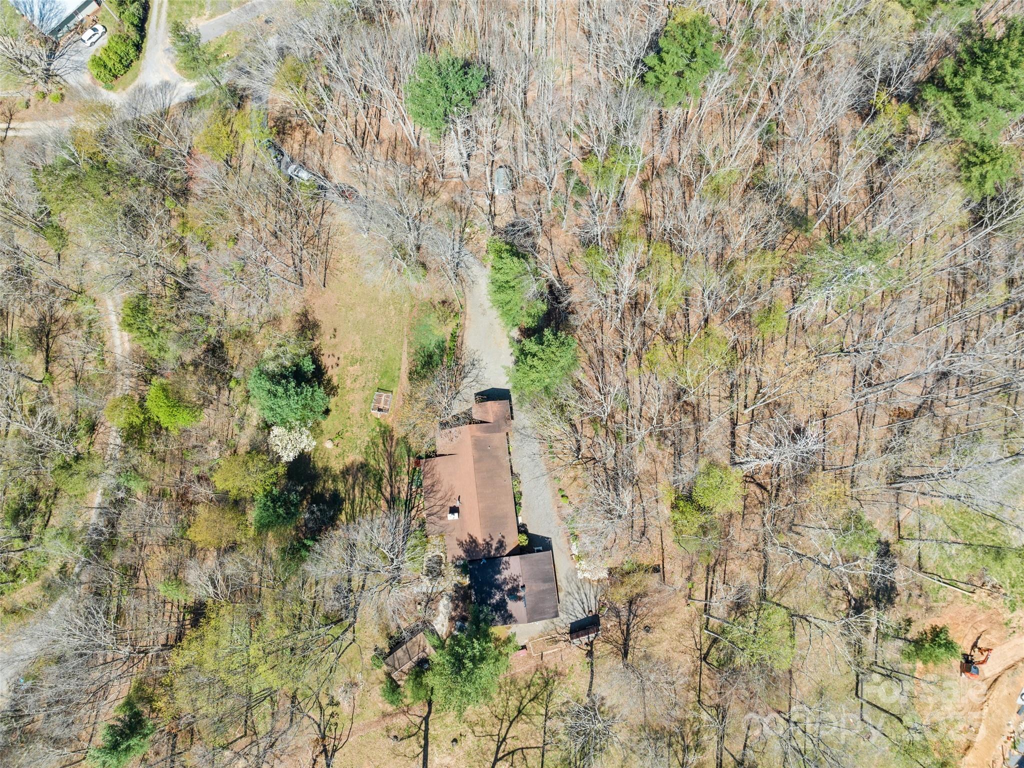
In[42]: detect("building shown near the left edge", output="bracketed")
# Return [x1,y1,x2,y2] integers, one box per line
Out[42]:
[13,0,120,45]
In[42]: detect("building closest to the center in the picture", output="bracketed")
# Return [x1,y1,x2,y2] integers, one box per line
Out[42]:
[421,400,522,562]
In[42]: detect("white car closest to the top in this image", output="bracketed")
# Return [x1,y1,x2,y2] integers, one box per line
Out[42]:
[76,23,108,48]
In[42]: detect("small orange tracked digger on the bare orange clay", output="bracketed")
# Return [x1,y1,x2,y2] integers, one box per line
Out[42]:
[958,644,993,679]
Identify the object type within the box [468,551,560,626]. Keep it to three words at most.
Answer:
building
